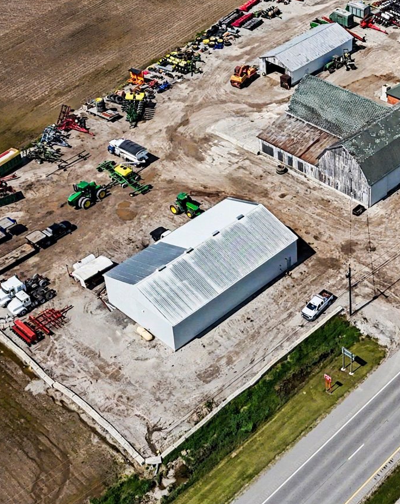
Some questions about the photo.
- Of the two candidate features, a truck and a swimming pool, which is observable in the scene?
truck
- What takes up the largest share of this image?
paved ground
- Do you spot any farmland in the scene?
Yes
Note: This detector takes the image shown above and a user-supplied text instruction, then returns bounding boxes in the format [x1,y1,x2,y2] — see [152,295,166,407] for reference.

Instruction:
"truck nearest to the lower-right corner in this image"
[299,294,338,322]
